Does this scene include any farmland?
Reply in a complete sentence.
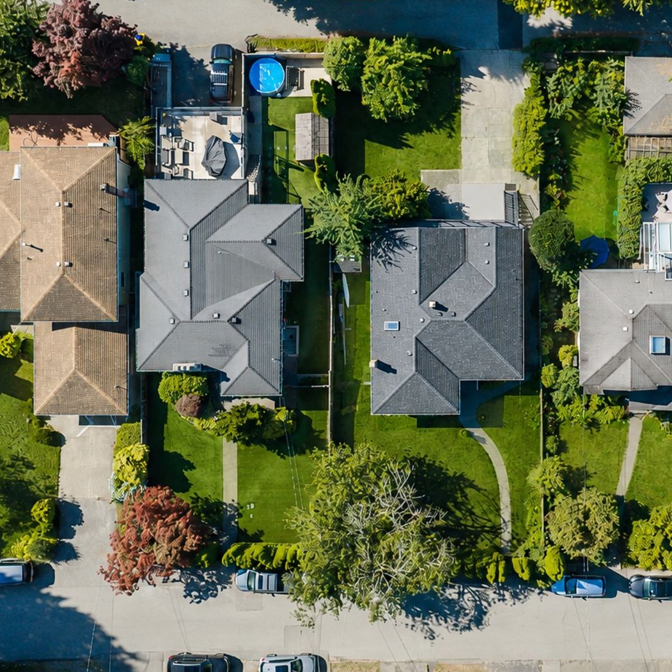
No, the scene doesn't show any farmland.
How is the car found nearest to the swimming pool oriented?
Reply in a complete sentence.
The car found nearest to the swimming pool is laid out from top to bottom.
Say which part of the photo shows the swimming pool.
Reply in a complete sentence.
The swimming pool appears toward the top of the photo.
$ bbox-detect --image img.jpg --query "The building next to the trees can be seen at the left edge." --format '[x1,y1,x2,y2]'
[0,145,145,417]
